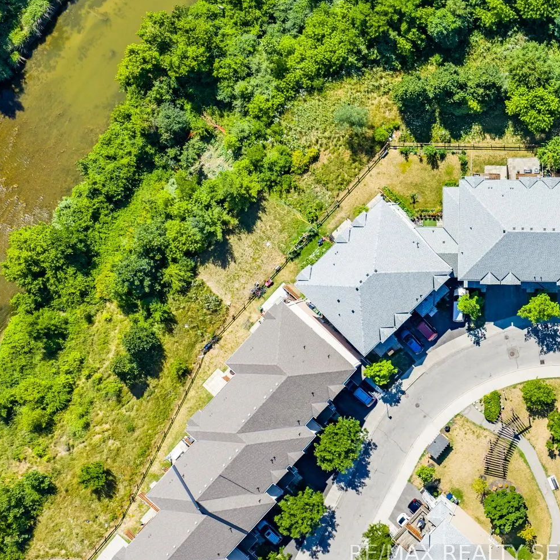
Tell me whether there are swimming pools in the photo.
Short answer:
No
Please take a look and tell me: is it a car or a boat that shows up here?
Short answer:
car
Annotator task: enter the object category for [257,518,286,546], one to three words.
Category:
car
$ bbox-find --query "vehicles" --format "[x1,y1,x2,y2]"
[397,326,425,355]
[411,314,444,346]
[393,510,411,530]
[452,286,468,323]
[405,495,432,515]
[347,380,382,411]
[257,518,286,546]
